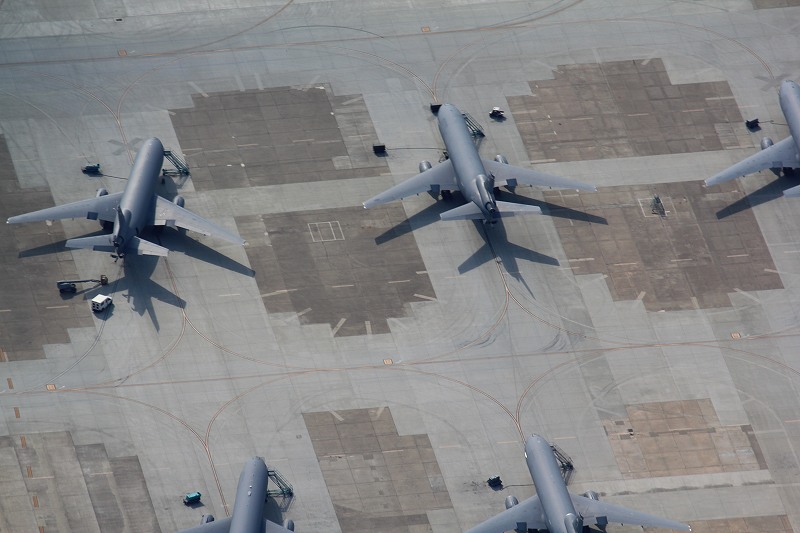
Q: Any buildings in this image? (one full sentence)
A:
No, the picture doesn't show any building.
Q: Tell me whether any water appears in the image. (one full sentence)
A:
No, water can't be seen anywhere here.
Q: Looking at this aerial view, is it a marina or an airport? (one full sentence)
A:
This image shows an airport.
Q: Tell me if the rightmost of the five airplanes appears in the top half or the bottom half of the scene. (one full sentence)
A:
The rightmost of the five airplanes sits in the top half of the picture.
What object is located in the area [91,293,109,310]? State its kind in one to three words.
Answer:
vehicle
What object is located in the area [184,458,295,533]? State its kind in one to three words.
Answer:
airplane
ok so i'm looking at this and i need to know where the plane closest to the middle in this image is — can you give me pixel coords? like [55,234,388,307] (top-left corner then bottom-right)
[363,104,597,228]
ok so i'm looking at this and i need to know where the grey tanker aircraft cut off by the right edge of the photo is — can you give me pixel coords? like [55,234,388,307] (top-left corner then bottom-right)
[705,82,800,199]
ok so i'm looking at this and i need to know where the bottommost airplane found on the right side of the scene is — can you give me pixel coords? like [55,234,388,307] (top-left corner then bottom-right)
[466,435,691,533]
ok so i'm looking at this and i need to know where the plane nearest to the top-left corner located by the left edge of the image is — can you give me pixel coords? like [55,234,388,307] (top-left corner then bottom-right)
[8,138,244,262]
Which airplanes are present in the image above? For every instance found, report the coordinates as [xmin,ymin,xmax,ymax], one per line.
[705,82,800,199]
[363,104,597,228]
[8,138,244,262]
[466,435,691,533]
[184,458,295,533]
